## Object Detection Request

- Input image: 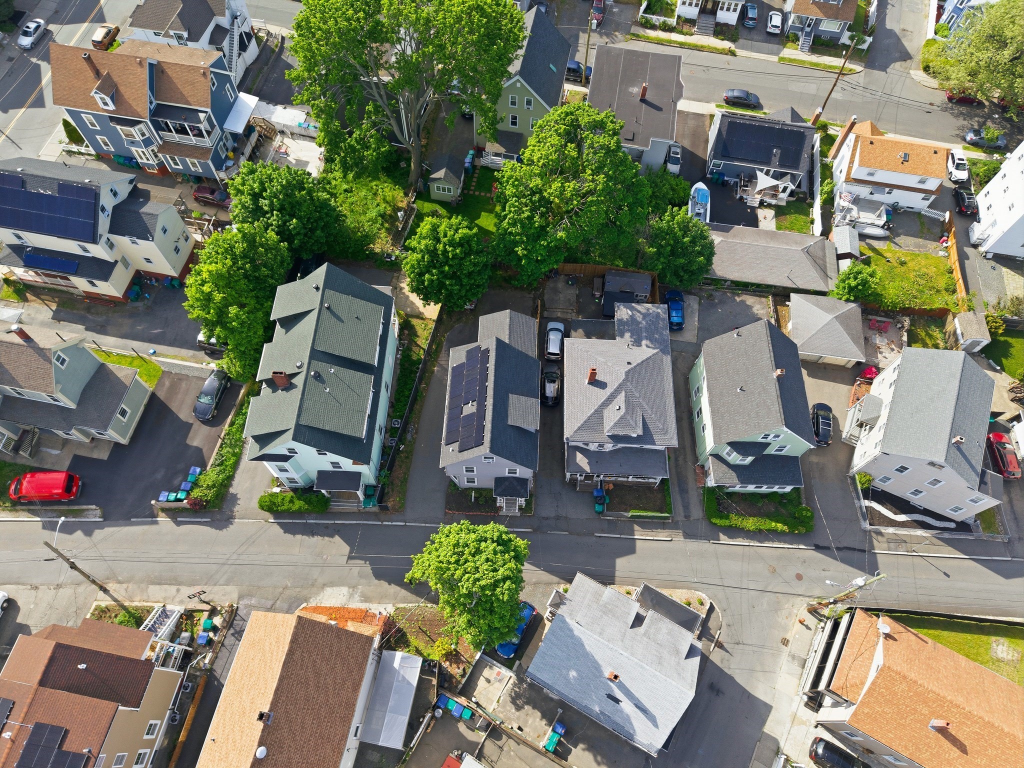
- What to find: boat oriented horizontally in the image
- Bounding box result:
[856,223,891,240]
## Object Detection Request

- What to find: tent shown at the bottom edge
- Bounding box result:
[359,650,425,750]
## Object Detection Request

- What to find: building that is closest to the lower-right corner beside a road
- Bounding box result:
[797,609,1024,768]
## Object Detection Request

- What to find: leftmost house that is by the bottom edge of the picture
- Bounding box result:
[0,602,184,768]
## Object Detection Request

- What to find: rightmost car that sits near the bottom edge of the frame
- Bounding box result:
[806,734,874,768]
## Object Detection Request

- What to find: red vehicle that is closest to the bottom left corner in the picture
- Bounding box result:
[8,468,81,499]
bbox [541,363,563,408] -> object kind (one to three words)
car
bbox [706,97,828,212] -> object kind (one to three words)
house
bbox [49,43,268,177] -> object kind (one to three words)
house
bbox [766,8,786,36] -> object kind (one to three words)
car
